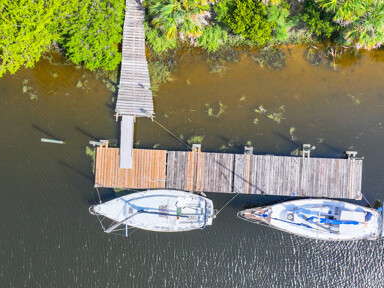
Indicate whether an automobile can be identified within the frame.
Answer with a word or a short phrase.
No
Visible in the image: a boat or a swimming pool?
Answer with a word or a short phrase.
boat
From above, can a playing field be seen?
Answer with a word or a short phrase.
No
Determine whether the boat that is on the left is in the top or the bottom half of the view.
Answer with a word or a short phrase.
bottom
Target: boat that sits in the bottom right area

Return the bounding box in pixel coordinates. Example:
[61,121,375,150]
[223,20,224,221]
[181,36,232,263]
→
[237,200,384,243]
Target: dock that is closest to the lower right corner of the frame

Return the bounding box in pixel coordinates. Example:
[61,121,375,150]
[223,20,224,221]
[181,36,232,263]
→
[234,155,363,200]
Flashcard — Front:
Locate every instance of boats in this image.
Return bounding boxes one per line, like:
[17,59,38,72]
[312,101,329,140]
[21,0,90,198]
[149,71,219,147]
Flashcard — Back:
[237,200,384,243]
[87,191,219,237]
